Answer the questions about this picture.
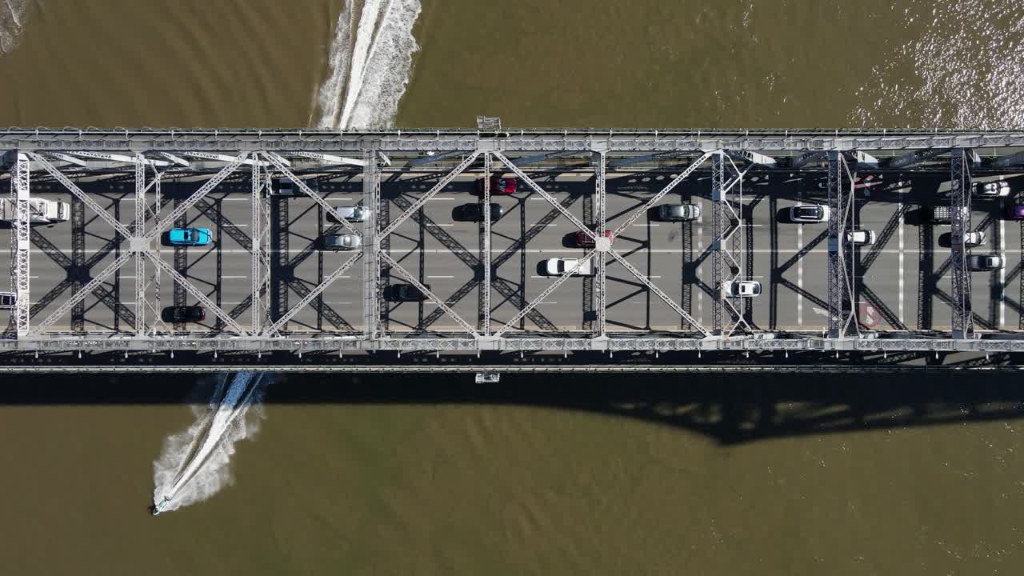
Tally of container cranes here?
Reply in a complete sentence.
The photo contains no container cranes.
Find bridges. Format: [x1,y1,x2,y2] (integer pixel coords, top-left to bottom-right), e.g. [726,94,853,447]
[0,123,1024,374]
